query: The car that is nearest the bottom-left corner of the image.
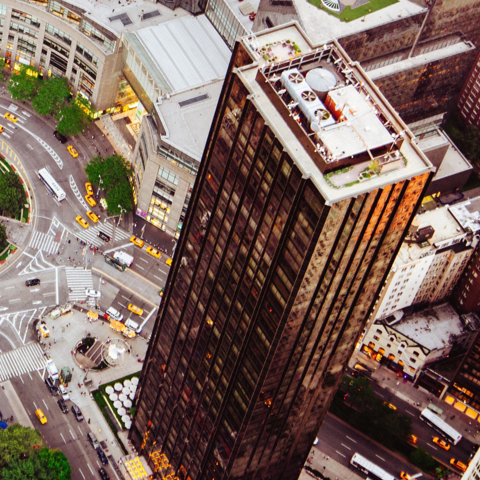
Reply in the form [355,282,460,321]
[34,410,49,424]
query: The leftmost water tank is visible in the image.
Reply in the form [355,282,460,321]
[305,64,333,98]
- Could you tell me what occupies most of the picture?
buildings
